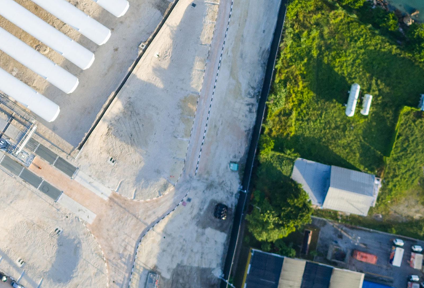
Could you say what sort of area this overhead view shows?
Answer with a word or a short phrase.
industrial area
